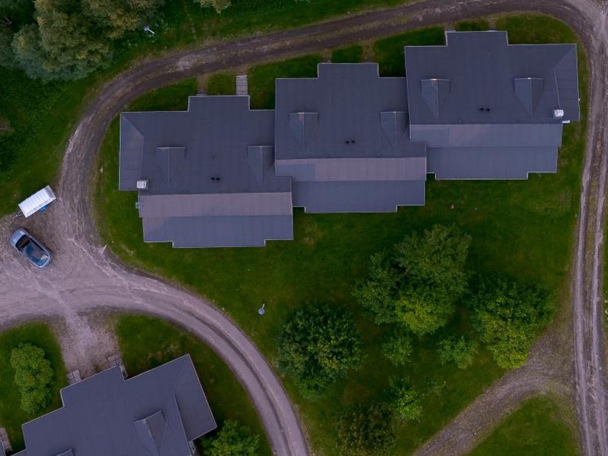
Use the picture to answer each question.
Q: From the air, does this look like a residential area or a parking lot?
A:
residential area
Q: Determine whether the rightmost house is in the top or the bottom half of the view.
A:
top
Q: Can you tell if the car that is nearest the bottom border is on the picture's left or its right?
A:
left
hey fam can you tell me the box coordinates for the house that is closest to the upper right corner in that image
[405,32,579,180]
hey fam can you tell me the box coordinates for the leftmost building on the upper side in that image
[119,96,294,248]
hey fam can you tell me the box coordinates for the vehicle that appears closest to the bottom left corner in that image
[12,227,56,271]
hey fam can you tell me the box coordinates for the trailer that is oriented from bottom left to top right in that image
[15,185,59,218]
